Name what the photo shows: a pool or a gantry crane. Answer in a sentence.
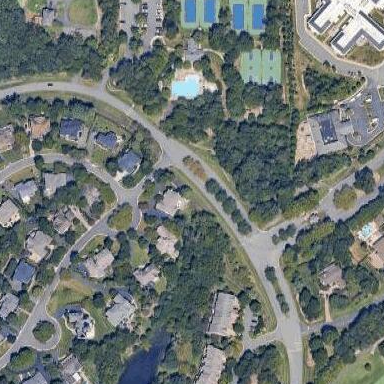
It is a pool that can be seen here.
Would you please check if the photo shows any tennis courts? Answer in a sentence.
Yes, the image includes a tennis court.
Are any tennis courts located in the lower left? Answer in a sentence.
No, I can find no tennis court in the lower left.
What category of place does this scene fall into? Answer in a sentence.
It's a residential area.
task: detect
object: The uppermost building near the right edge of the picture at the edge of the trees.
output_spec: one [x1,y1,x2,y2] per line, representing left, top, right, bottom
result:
[308,0,384,54]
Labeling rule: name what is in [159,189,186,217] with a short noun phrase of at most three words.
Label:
house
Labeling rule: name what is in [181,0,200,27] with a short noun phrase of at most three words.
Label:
tennis court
